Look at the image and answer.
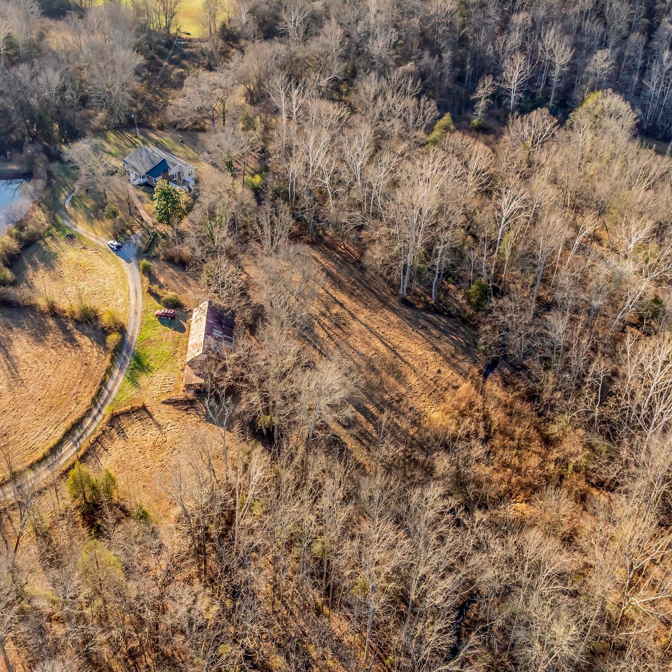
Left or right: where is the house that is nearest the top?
left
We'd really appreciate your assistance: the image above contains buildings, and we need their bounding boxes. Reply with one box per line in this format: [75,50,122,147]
[120,144,200,190]
[180,296,239,398]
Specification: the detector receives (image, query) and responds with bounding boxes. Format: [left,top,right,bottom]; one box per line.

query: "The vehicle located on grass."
[154,309,177,322]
